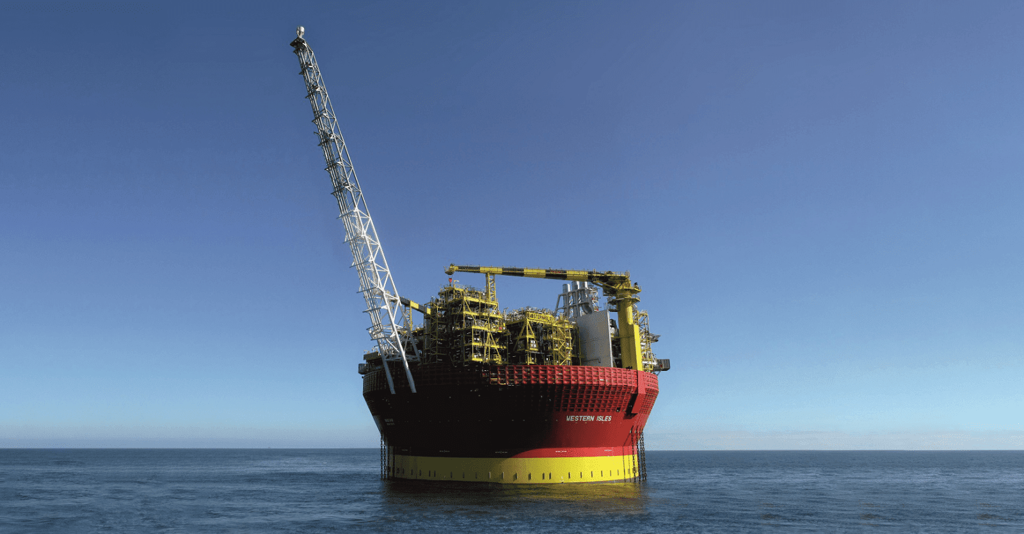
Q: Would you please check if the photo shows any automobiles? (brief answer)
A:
No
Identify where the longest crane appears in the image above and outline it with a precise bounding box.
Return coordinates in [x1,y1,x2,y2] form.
[444,261,644,375]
